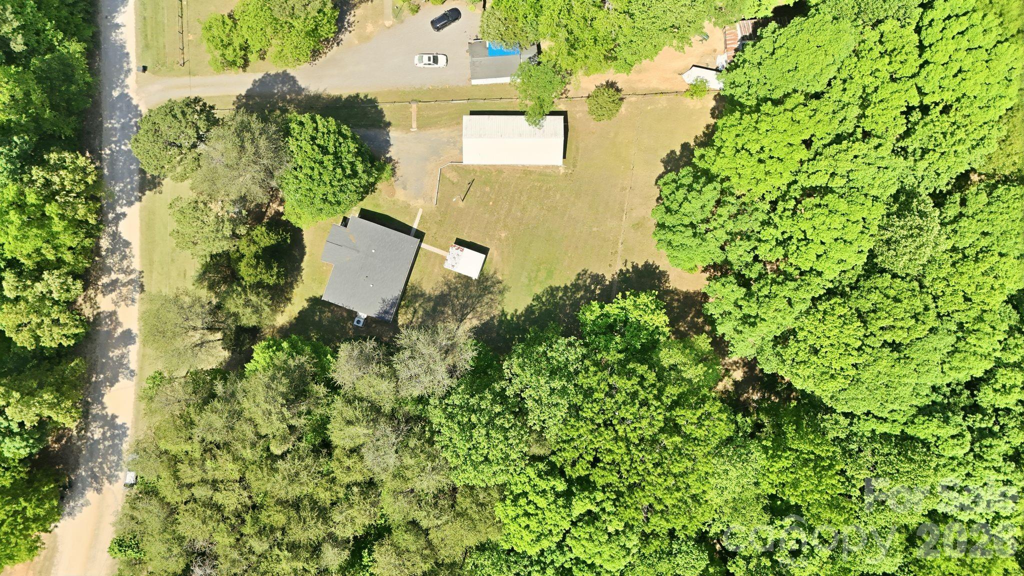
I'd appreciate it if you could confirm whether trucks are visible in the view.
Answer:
No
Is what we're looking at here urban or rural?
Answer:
rural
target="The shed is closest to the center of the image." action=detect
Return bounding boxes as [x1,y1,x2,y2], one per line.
[445,244,485,279]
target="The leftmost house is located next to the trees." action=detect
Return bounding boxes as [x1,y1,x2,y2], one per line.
[320,215,420,323]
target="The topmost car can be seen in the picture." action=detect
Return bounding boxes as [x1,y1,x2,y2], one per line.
[430,9,461,32]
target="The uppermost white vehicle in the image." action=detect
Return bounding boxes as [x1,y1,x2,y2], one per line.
[415,53,448,68]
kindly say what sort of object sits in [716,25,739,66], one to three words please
shed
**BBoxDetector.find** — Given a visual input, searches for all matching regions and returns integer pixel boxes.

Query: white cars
[122,458,140,489]
[415,53,448,68]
